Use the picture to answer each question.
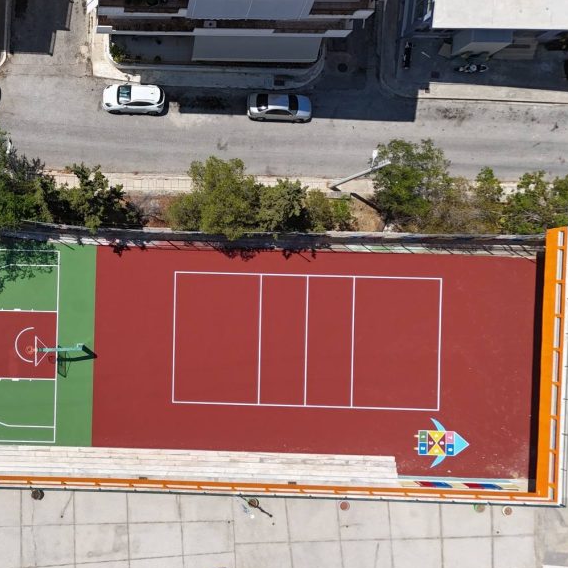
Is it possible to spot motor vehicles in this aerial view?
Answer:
Yes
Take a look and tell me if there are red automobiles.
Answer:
No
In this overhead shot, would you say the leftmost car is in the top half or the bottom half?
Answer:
top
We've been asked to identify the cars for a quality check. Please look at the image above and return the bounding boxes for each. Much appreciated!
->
[245,91,311,125]
[101,80,165,117]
